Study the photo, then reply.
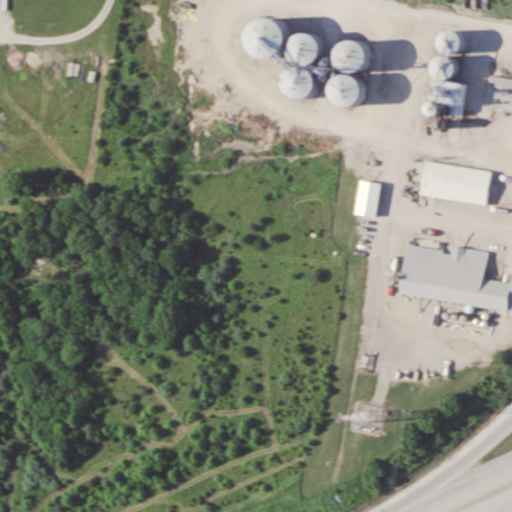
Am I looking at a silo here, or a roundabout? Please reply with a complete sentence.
Looking from above, you can make out a silo.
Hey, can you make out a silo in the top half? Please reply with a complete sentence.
Yes, you'll find a silo in the top half.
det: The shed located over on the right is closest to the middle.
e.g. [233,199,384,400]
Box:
[354,180,382,218]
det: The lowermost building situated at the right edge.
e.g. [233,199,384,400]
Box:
[400,244,512,312]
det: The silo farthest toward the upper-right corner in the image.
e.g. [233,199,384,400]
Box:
[435,29,466,58]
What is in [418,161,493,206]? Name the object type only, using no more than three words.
shed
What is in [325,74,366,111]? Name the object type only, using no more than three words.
silo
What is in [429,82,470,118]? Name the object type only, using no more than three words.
building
